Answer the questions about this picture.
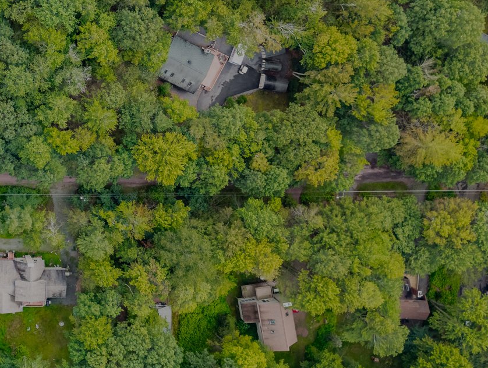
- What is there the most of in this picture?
trees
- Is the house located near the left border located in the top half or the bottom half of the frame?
bottom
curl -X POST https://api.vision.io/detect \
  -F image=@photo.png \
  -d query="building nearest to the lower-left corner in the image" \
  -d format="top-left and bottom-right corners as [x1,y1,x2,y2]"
[0,251,70,316]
